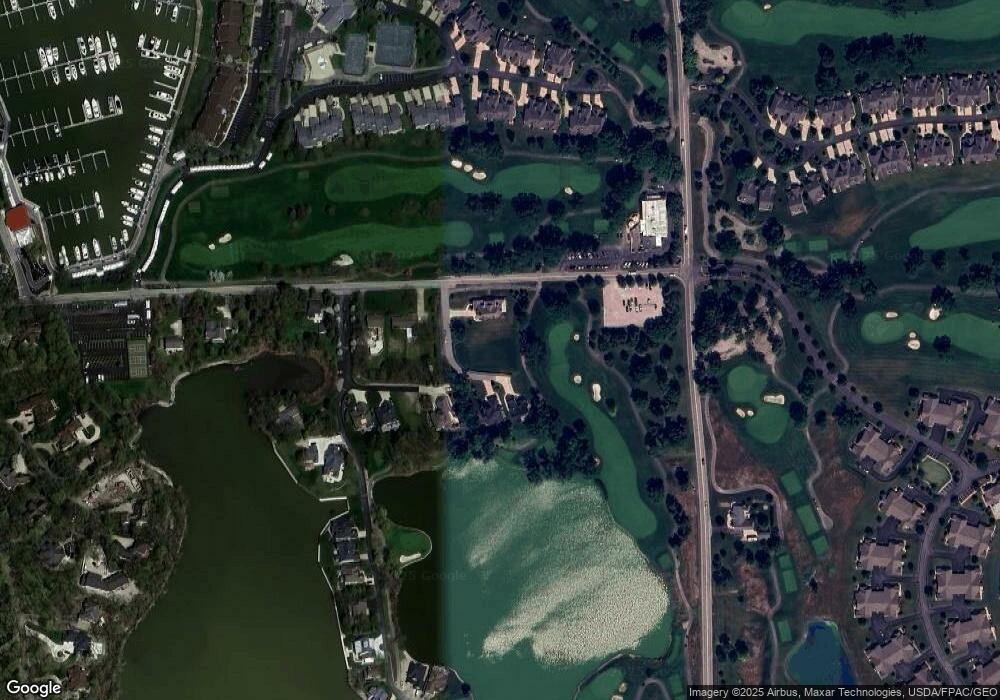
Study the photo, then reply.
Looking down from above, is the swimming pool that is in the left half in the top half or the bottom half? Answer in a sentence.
The swimming pool that is in the left half sits in the top half of the picture.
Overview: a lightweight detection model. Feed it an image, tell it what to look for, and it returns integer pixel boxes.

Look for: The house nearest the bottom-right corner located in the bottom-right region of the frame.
[972,662,1000,698]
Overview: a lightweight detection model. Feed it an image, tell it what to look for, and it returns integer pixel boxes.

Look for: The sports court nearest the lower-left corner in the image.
[126,339,148,380]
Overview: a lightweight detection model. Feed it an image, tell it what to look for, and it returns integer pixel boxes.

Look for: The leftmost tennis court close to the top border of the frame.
[343,33,367,75]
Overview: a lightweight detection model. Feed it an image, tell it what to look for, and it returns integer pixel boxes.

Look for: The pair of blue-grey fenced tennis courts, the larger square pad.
[374,24,418,67]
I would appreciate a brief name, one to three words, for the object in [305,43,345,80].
swimming pool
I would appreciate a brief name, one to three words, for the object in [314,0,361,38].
building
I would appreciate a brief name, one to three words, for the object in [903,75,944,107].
house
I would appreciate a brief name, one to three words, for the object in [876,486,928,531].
house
